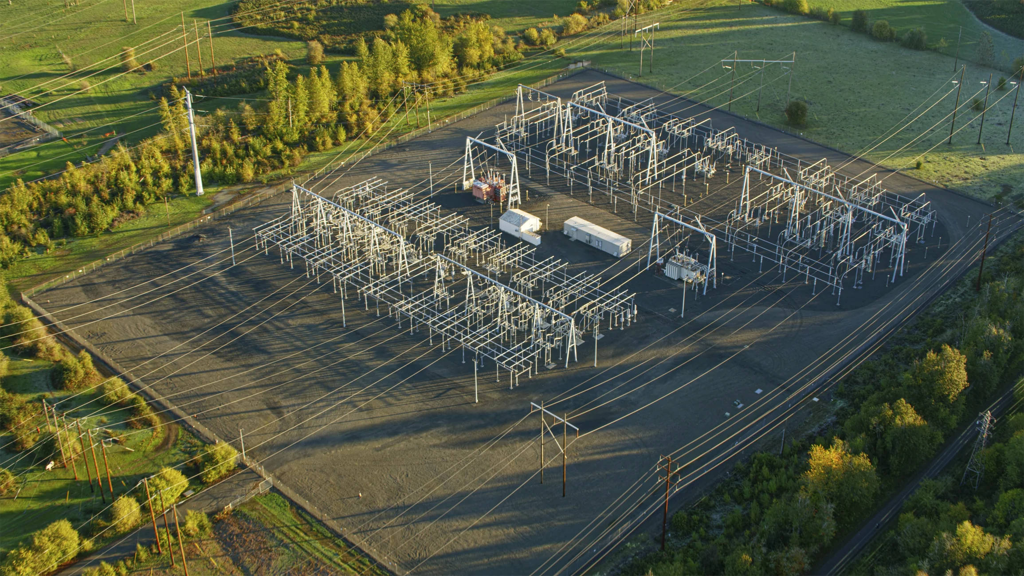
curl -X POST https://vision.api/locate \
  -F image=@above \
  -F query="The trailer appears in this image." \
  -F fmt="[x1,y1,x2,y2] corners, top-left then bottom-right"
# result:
[564,216,631,257]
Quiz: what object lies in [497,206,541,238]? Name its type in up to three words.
shed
